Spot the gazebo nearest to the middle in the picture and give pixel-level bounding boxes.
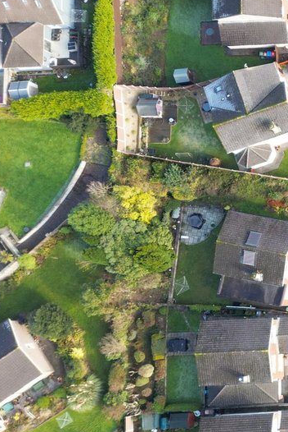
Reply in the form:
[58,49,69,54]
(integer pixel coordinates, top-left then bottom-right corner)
[188,213,205,229]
